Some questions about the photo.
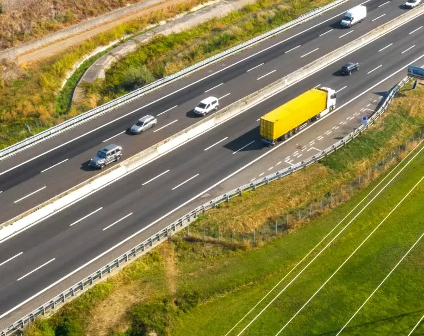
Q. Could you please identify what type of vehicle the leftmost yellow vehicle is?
truck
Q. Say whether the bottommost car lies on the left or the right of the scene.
left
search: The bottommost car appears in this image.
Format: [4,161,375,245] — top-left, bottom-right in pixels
[89,144,122,169]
